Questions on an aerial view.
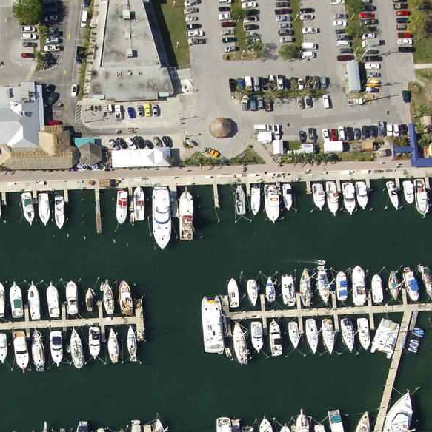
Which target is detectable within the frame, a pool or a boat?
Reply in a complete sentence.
It is a boat that can be seen here.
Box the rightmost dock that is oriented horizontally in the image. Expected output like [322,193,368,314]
[221,288,432,336]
